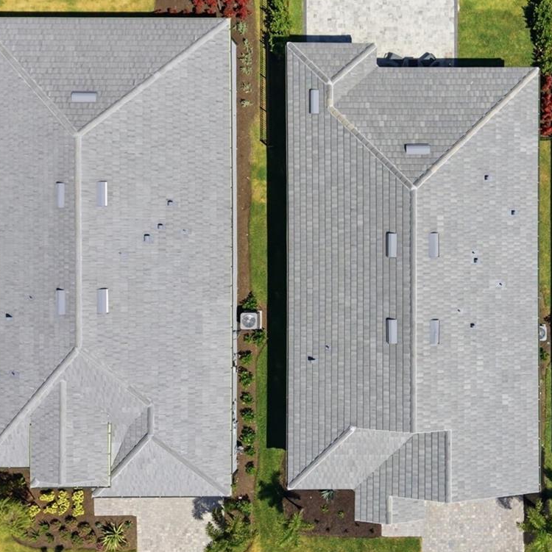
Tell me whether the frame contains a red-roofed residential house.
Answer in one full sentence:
No, no red-roofed residential house is visible in the view.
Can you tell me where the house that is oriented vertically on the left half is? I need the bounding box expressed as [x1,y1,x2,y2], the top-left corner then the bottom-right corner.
[0,15,238,499]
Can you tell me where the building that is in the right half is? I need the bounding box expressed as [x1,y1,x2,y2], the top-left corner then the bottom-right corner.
[284,40,542,527]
